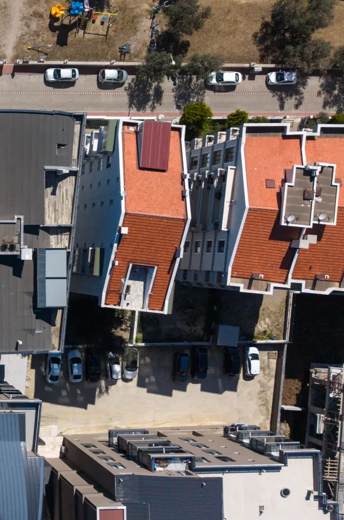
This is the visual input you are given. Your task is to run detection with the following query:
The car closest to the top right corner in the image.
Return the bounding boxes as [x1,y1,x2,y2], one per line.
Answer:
[265,70,298,86]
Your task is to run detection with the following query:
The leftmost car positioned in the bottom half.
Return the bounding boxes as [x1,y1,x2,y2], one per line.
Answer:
[45,351,63,385]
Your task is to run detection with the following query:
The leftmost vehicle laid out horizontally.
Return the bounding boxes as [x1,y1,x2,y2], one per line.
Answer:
[44,67,79,83]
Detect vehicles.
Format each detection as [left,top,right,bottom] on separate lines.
[44,67,79,83]
[207,72,242,86]
[265,70,298,86]
[296,112,314,129]
[222,346,241,377]
[171,351,191,383]
[97,69,128,85]
[66,349,84,383]
[190,347,210,379]
[105,350,124,381]
[122,346,140,378]
[85,351,103,383]
[45,351,63,385]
